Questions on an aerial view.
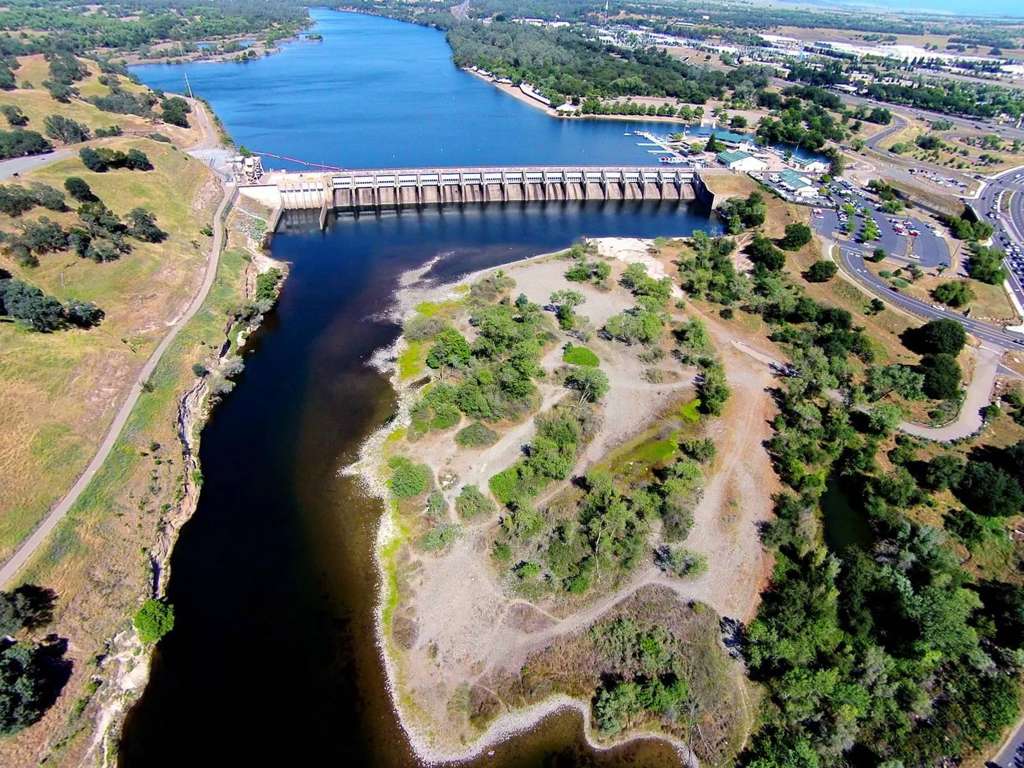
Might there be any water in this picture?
Yes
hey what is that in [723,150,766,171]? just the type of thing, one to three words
building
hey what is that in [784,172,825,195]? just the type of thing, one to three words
building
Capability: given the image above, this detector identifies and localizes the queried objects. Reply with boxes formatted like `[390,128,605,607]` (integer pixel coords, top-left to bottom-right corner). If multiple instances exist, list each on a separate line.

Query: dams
[257,164,704,208]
